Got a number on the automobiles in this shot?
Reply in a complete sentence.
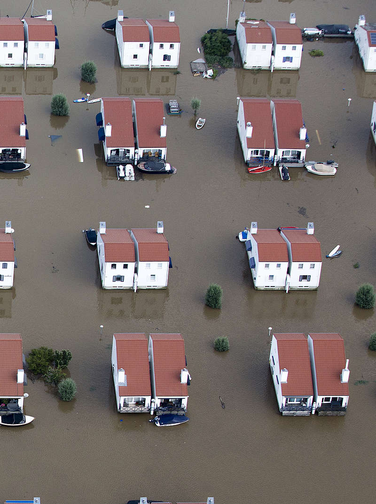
The photo contains no automobiles.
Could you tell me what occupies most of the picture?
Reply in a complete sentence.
The largest share of the image is taken up by water.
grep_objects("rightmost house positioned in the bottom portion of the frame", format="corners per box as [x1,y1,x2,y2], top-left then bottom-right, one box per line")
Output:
[308,334,351,415]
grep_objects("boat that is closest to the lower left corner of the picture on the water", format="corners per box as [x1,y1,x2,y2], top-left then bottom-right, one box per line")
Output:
[0,411,34,425]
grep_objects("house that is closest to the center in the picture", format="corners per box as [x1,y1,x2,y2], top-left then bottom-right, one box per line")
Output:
[132,222,172,289]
